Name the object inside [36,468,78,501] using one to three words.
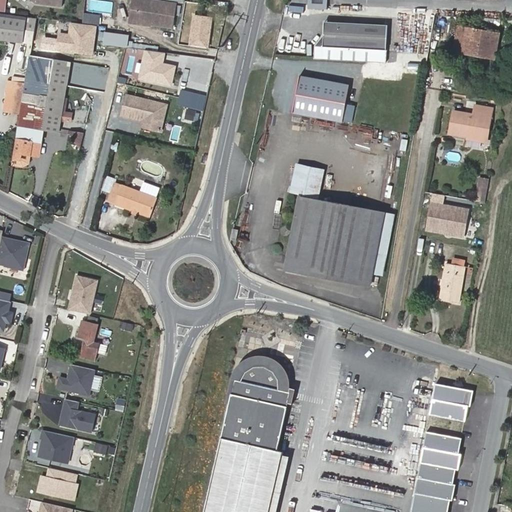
house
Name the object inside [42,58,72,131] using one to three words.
building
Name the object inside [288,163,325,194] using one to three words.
shed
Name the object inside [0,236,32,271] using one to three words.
house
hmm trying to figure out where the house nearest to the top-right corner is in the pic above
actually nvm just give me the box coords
[455,26,500,60]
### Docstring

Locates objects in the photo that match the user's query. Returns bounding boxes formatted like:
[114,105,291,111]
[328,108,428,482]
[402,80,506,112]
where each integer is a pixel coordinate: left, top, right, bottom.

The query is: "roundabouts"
[166,255,221,310]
